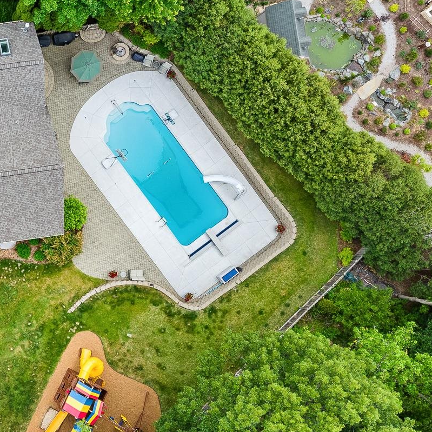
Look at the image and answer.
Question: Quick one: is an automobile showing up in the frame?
No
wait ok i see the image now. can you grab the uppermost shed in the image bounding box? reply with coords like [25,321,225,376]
[263,0,313,56]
